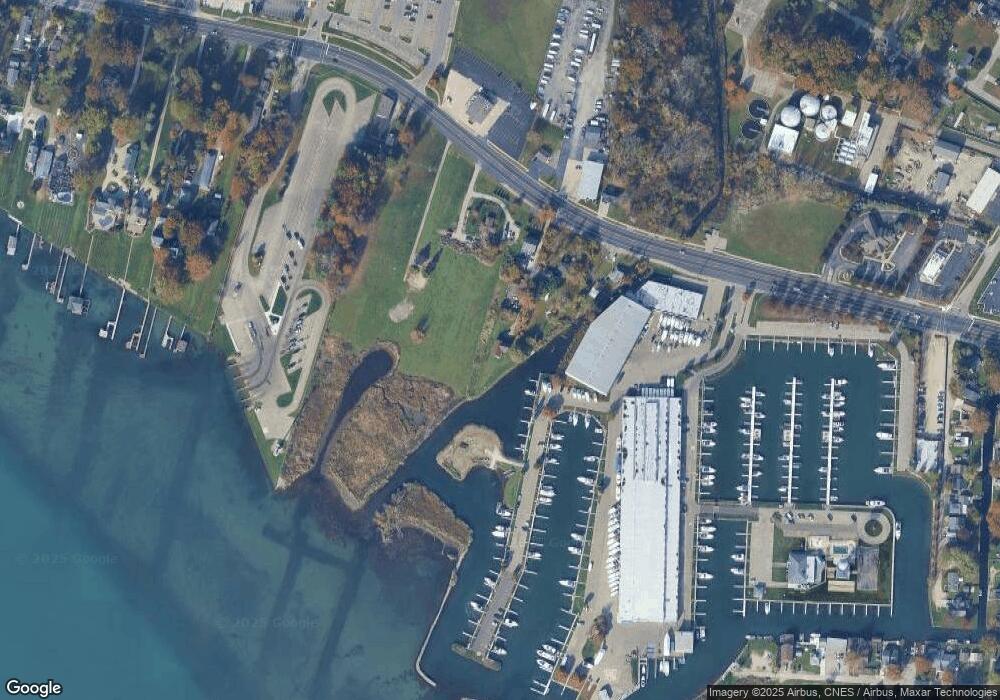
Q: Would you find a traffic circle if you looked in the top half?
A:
No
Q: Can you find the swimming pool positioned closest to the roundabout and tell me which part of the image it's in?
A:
bottom right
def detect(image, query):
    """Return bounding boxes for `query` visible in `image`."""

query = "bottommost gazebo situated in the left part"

[269,440,283,455]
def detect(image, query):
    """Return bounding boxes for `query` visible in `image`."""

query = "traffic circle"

[862,511,891,544]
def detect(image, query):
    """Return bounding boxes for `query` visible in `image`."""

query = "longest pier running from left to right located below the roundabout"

[743,599,892,616]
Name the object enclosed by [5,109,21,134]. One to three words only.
house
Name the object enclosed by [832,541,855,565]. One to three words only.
swimming pool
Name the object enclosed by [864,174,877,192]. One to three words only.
vehicle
